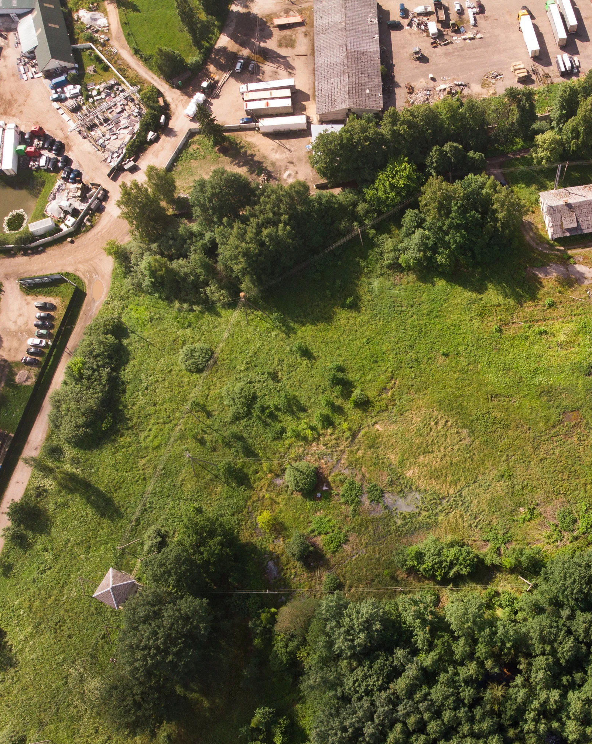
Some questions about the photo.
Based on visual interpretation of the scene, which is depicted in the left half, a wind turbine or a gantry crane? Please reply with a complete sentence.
The one visible in the left half is a gantry crane.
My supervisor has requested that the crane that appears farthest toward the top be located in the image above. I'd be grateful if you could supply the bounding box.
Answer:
[69,84,145,144]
